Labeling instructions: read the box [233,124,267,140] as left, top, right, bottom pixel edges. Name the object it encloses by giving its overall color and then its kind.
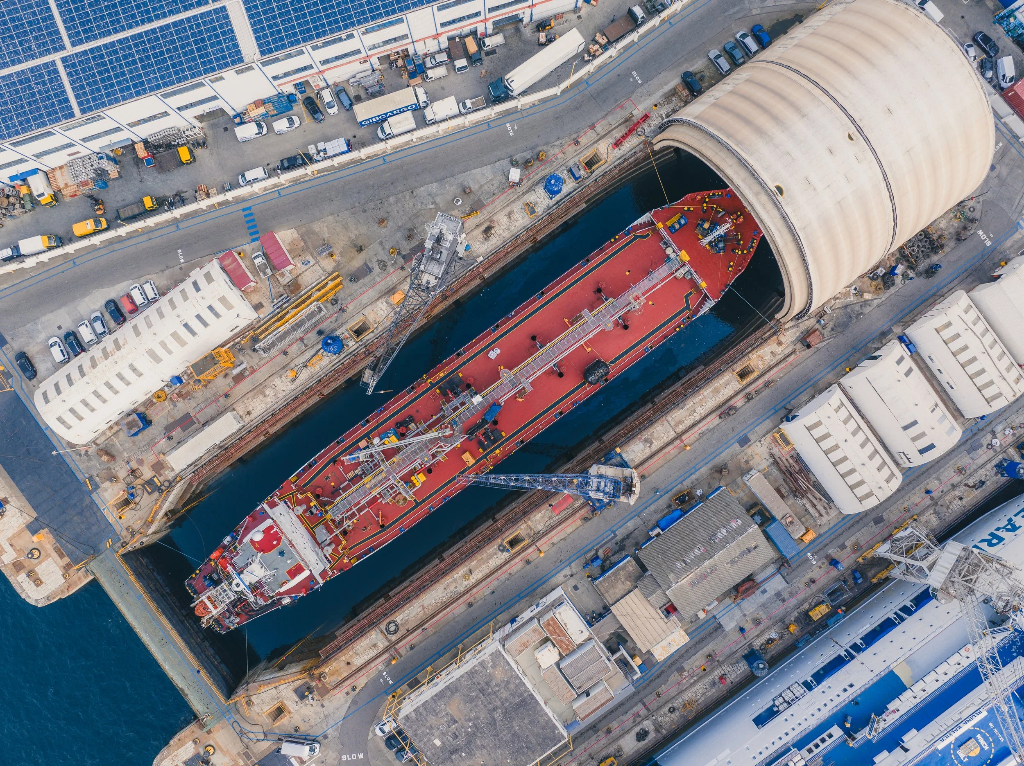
white vehicle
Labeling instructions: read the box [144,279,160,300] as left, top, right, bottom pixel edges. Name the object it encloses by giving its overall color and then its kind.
white car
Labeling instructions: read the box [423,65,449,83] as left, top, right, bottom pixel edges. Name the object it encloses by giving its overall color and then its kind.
white vehicle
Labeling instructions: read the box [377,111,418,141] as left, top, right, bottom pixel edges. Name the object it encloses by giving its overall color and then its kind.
white truck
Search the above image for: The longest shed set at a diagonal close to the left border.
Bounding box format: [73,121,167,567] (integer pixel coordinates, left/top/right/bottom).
[29,258,257,444]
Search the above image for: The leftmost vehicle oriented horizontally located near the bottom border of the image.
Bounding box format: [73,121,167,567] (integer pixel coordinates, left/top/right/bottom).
[281,733,322,754]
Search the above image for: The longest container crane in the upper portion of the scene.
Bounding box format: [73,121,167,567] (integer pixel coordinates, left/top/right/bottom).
[360,210,487,398]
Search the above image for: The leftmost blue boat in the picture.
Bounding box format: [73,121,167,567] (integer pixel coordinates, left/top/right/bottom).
[468,404,502,435]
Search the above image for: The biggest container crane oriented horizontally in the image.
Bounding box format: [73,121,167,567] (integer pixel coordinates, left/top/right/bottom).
[456,446,642,520]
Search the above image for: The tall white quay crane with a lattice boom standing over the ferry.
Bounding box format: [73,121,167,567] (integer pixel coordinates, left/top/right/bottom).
[853,513,1024,766]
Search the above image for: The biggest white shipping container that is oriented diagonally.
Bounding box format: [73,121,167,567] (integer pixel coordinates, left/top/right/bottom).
[166,411,247,471]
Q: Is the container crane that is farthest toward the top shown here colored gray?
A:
Yes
